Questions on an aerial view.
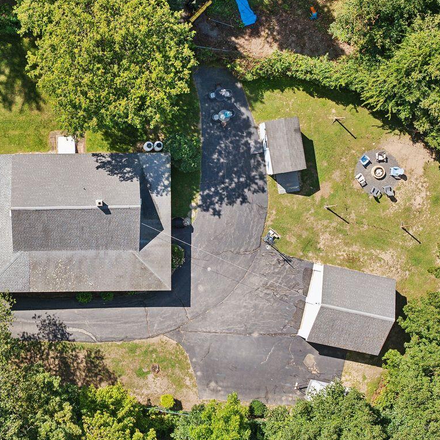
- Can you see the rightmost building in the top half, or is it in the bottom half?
bottom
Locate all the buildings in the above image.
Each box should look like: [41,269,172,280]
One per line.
[0,136,172,293]
[261,116,306,175]
[299,265,395,356]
